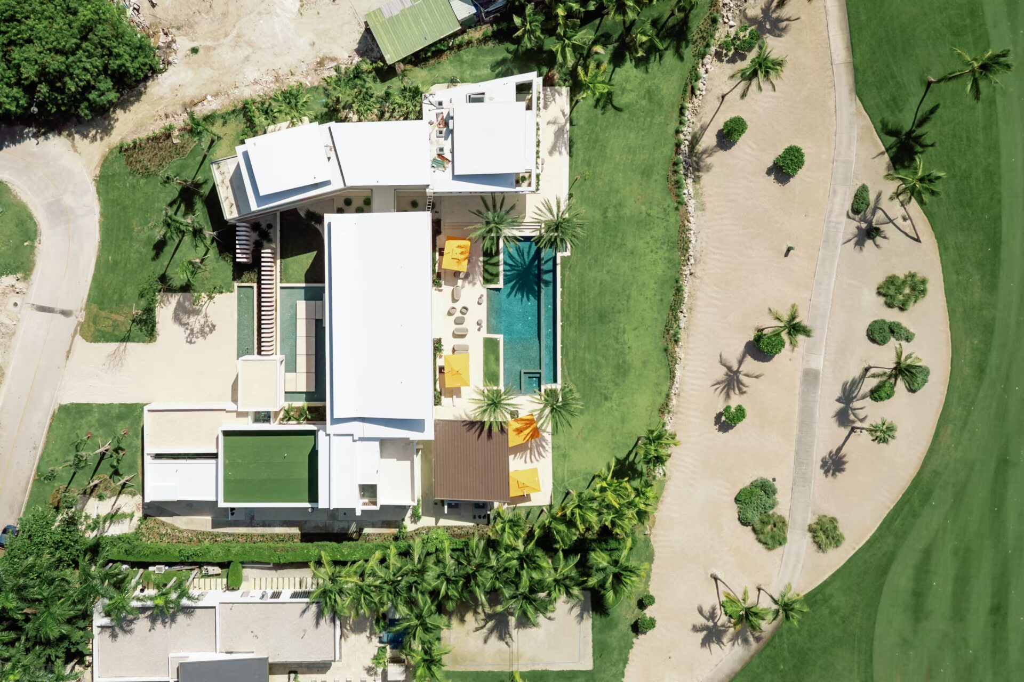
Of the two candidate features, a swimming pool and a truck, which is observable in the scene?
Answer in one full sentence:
This aerial view contains a swimming pool.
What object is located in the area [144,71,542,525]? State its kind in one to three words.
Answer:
house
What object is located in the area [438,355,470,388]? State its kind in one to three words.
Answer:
umbrella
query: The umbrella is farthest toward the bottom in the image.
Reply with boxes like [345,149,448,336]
[510,468,541,503]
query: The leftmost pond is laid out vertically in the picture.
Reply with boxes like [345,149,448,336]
[234,282,256,359]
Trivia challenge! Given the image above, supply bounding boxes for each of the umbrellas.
[438,355,470,388]
[510,415,539,446]
[510,468,541,503]
[439,238,471,272]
